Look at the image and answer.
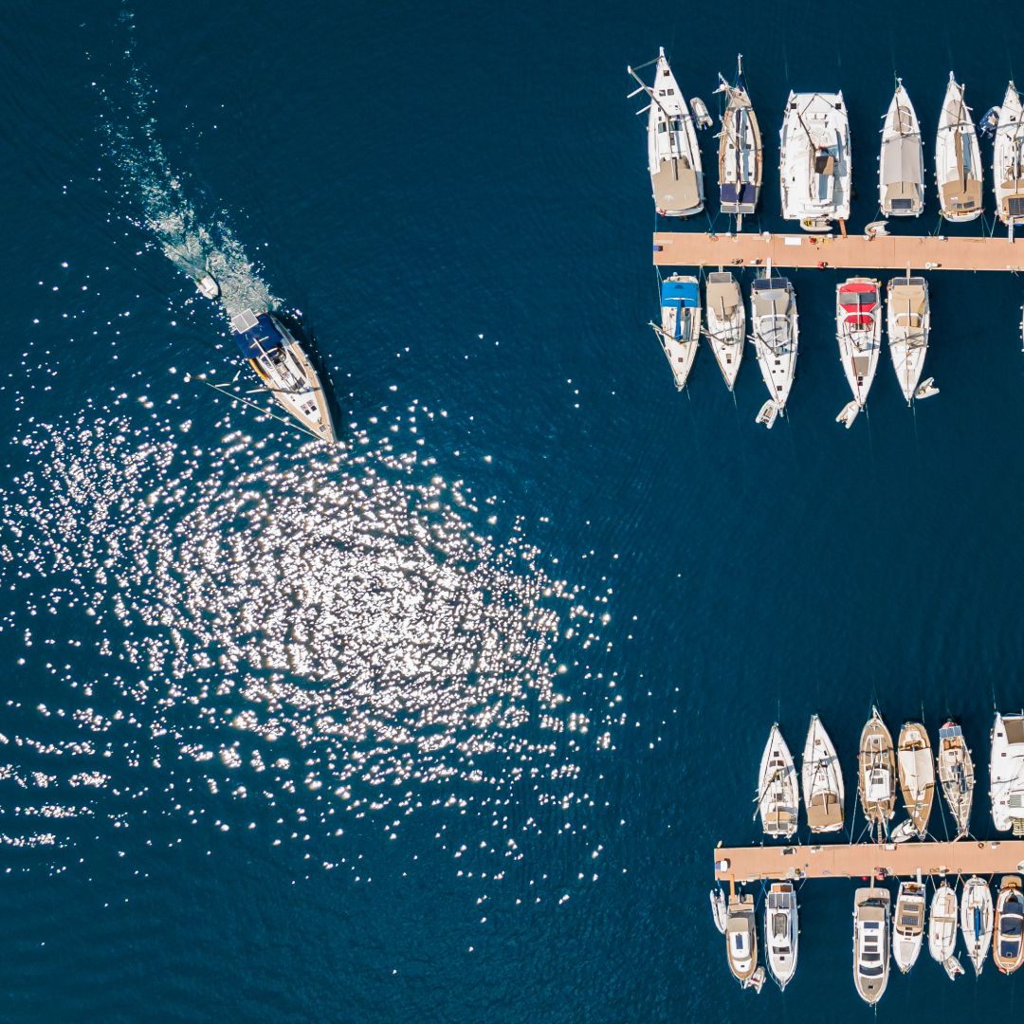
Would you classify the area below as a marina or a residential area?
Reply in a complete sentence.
What you see here is a marina.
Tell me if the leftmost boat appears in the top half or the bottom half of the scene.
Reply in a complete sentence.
The leftmost boat sits in the top half of the picture.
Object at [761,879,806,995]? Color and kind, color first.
white boat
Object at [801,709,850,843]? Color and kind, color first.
white boat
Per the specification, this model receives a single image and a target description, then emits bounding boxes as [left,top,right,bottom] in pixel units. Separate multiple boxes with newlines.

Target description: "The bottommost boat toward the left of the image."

[195,305,339,448]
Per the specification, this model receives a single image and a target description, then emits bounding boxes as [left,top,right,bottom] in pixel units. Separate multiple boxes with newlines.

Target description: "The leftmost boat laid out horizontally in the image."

[800,219,834,232]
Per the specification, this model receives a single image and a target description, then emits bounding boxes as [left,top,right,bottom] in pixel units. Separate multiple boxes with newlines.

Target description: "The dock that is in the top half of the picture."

[652,233,1024,272]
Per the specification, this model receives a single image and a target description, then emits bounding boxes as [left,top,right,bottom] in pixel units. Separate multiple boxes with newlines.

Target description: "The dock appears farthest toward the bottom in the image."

[713,840,1024,880]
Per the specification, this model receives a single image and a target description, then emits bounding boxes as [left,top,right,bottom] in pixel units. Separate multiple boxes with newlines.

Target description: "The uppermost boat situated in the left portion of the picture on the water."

[195,274,217,298]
